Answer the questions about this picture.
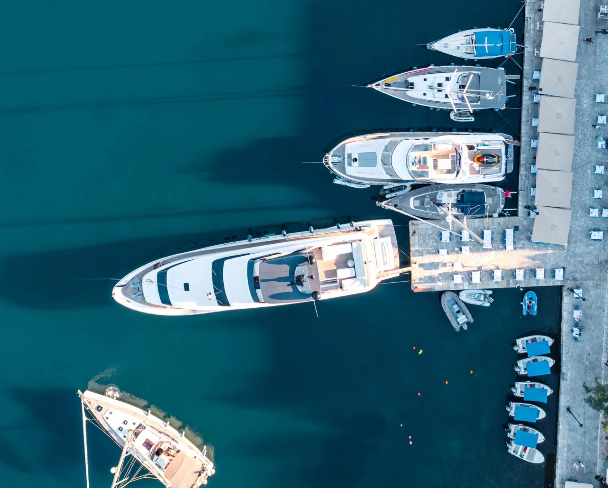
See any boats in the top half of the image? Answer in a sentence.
Yes, looking in the top half of the image, one can make out a boat.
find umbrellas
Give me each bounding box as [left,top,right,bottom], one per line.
[538,58,578,98]
[534,169,573,207]
[531,206,572,245]
[564,479,593,488]
[542,0,580,24]
[538,95,576,134]
[540,22,581,61]
[536,133,575,171]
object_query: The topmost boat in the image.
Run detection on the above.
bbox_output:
[418,4,527,69]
